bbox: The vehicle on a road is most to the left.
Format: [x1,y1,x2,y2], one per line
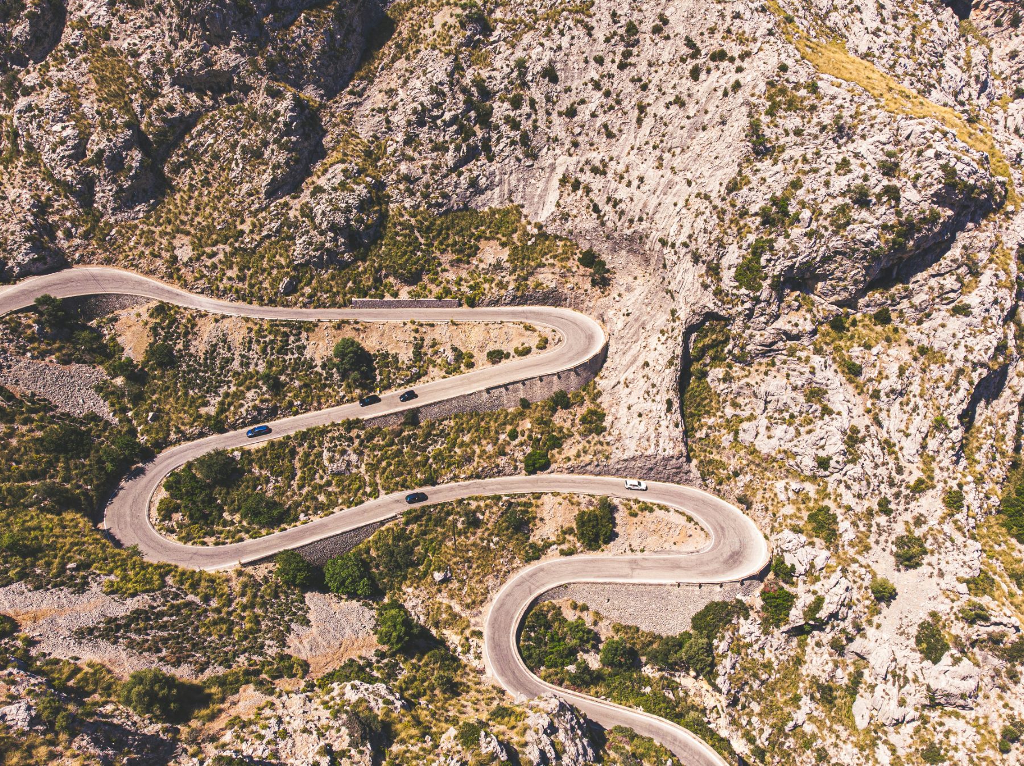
[246,426,270,440]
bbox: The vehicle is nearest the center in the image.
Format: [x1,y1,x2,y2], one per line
[398,390,419,404]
